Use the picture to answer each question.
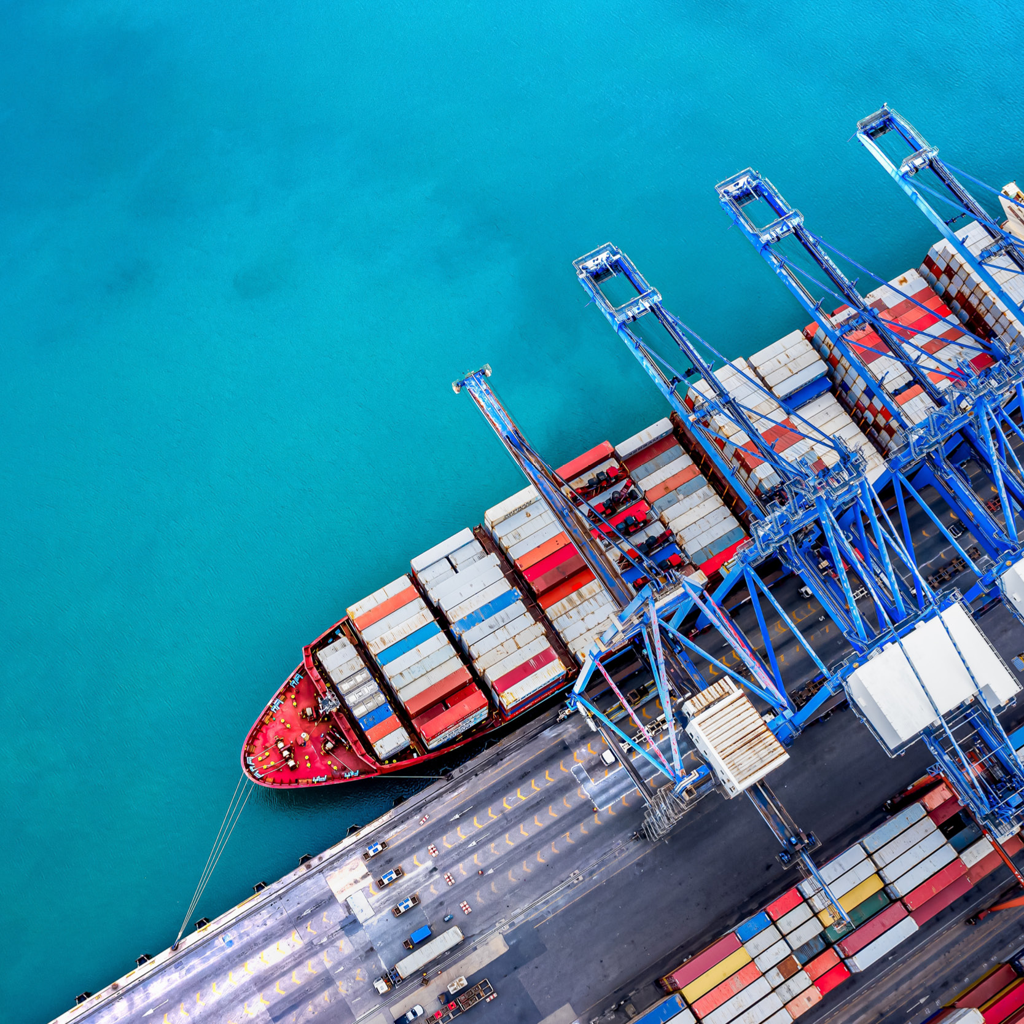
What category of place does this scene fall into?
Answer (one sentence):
The picture captures a port.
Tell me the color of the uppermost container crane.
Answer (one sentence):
The uppermost container crane looks blue in the image.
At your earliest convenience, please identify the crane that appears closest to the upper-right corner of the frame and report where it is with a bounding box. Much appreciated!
[850,99,1024,340]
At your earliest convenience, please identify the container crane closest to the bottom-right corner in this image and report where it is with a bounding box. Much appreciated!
[880,752,1024,933]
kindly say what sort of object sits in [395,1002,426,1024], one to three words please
truck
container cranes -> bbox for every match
[436,361,884,983]
[569,236,1024,862]
[880,752,1024,933]
[850,99,1024,340]
[712,162,1024,636]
